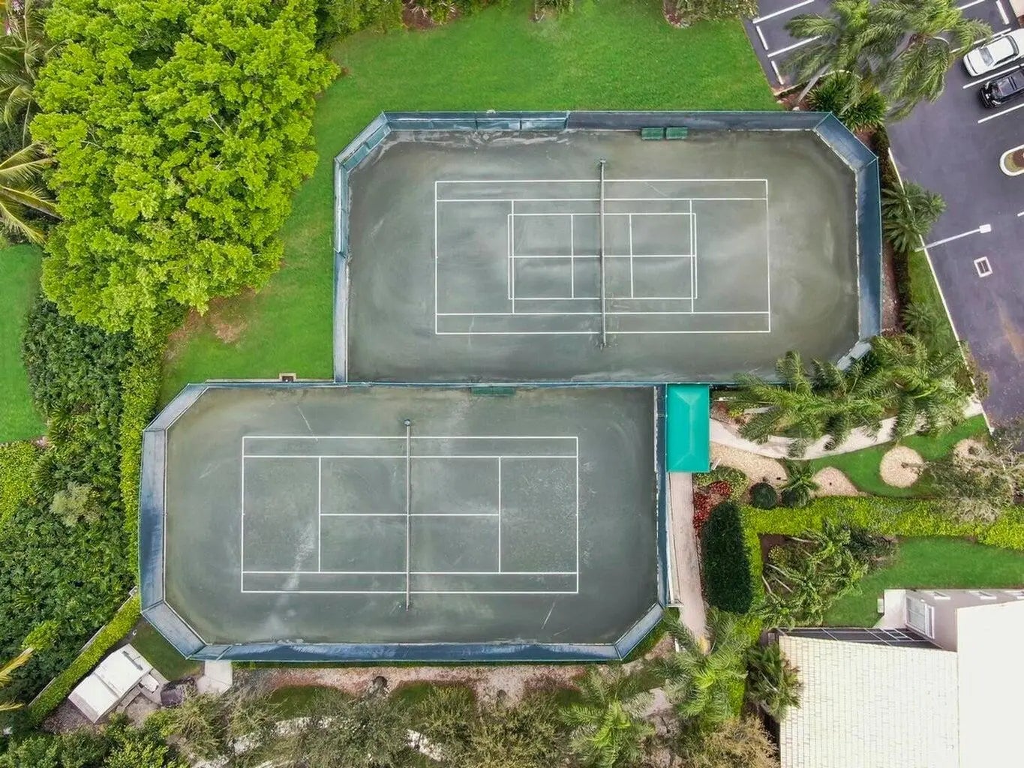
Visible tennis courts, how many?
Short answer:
2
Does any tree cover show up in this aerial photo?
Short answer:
Yes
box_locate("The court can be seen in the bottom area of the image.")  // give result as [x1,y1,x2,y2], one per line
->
[163,387,660,646]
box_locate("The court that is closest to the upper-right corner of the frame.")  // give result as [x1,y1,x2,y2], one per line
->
[347,129,861,385]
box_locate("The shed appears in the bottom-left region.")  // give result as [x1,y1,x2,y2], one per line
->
[69,643,155,723]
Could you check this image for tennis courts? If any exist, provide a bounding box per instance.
[347,129,861,385]
[163,387,660,646]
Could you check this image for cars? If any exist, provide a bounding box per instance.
[980,67,1024,107]
[964,36,1024,80]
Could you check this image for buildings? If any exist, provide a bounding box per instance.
[768,587,1024,768]
[69,643,155,723]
